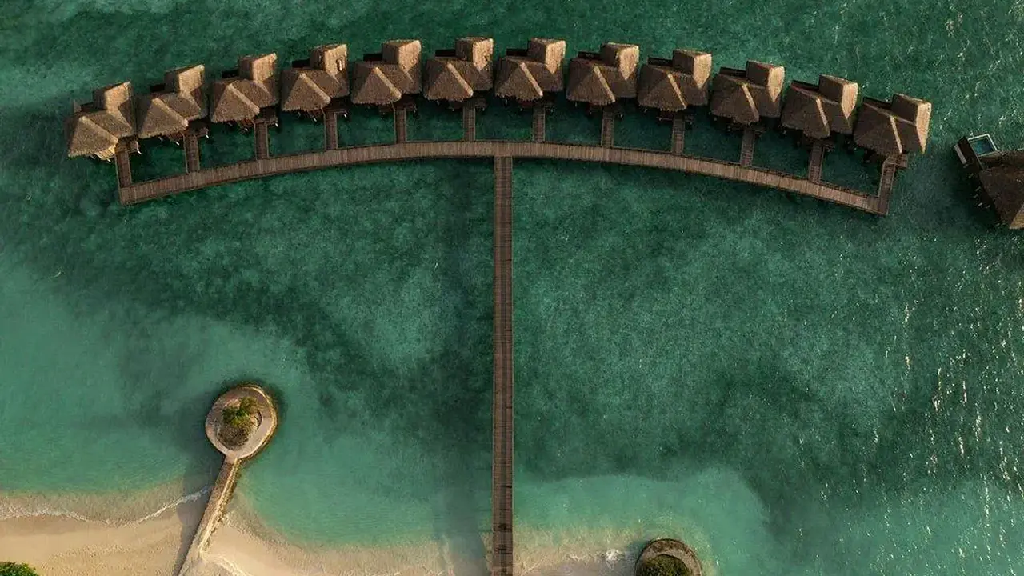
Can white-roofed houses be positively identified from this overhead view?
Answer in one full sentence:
No, no white-roofed house is visible in the scene.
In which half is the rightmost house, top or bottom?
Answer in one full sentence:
You can find the rightmost house in the top half.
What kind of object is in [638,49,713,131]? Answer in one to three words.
house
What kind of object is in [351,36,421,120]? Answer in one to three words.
house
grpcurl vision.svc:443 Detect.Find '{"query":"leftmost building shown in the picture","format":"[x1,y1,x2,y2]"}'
[63,82,150,169]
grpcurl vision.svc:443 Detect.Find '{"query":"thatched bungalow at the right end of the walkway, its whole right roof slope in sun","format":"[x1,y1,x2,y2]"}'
[842,93,933,172]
